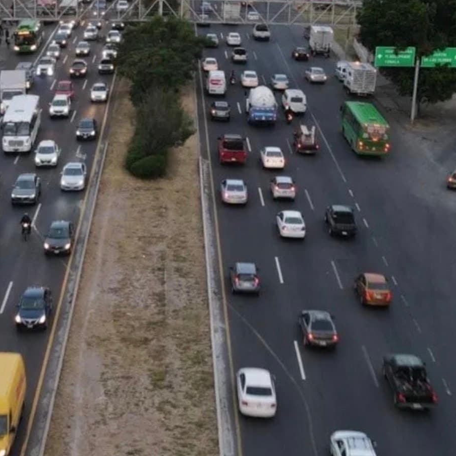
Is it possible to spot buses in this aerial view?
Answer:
Yes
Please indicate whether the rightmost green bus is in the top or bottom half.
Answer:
top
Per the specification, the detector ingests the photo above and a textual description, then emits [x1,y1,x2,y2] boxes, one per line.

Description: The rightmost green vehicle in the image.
[343,99,390,150]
